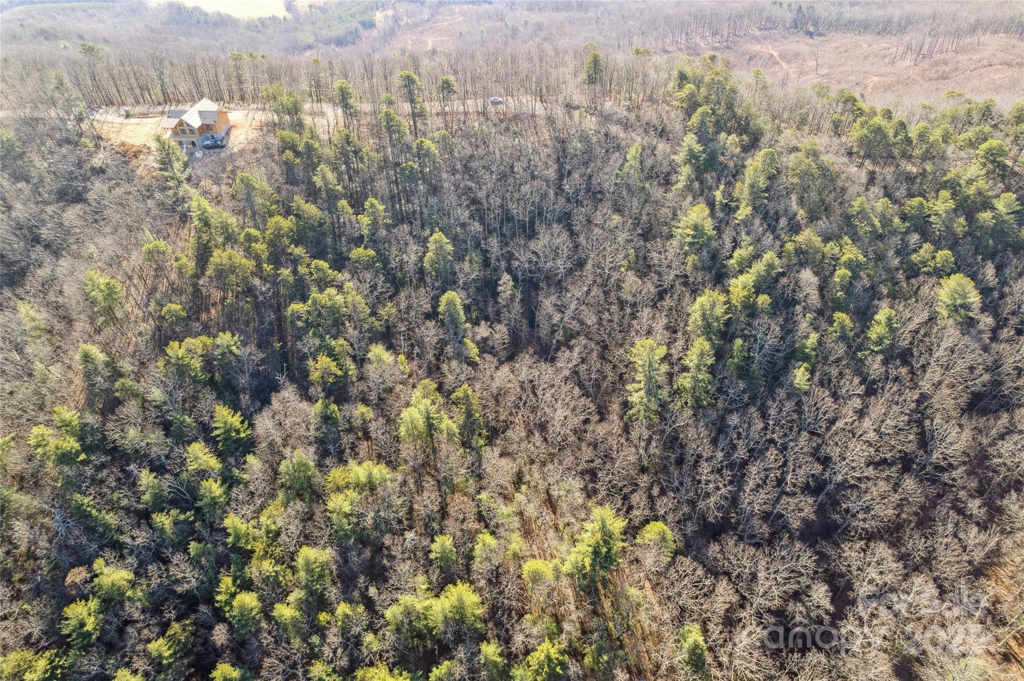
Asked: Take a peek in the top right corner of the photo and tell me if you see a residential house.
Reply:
No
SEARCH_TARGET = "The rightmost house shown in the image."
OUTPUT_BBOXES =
[159,100,226,150]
